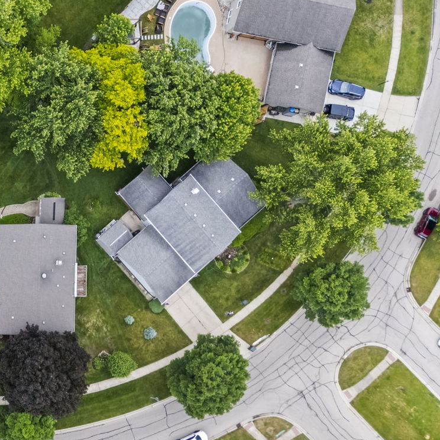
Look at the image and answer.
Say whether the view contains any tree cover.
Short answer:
Yes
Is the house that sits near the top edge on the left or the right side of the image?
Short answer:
right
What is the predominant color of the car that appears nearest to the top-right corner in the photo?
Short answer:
blue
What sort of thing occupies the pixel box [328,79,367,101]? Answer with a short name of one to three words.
car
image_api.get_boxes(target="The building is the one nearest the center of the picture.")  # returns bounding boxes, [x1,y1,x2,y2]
[113,150,265,305]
